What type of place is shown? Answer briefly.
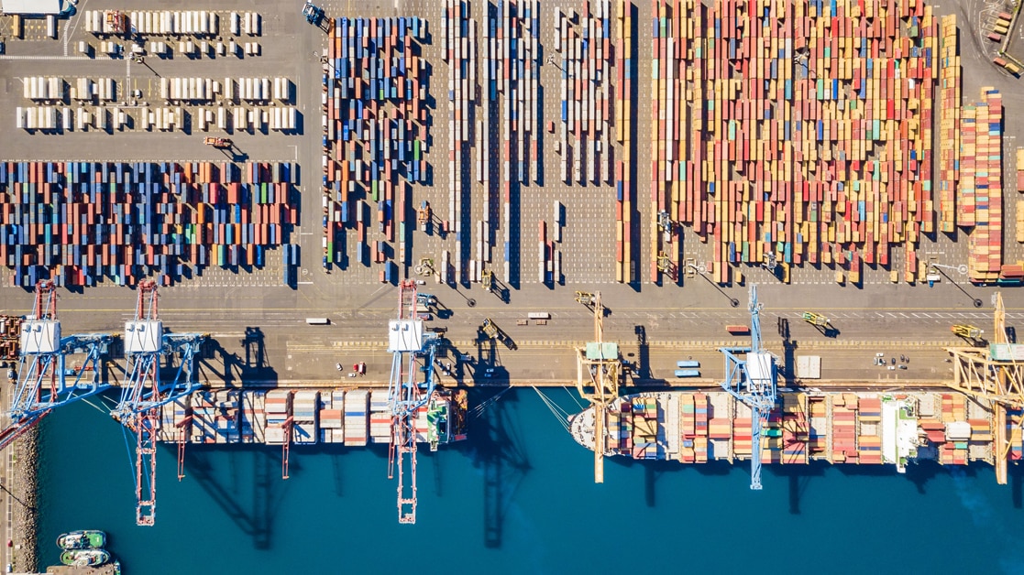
port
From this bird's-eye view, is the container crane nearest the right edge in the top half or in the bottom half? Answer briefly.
bottom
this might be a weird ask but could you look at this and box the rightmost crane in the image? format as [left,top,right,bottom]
[943,297,1024,482]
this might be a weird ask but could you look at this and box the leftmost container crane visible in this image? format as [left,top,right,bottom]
[0,280,117,454]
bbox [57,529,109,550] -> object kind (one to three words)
boat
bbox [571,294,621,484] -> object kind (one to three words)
container crane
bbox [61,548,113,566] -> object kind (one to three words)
boat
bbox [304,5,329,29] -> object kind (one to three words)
work vehicle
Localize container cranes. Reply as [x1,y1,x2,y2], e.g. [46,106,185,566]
[0,280,117,454]
[387,280,441,525]
[717,286,778,491]
[116,280,210,525]
[571,294,621,484]
[943,297,1024,482]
